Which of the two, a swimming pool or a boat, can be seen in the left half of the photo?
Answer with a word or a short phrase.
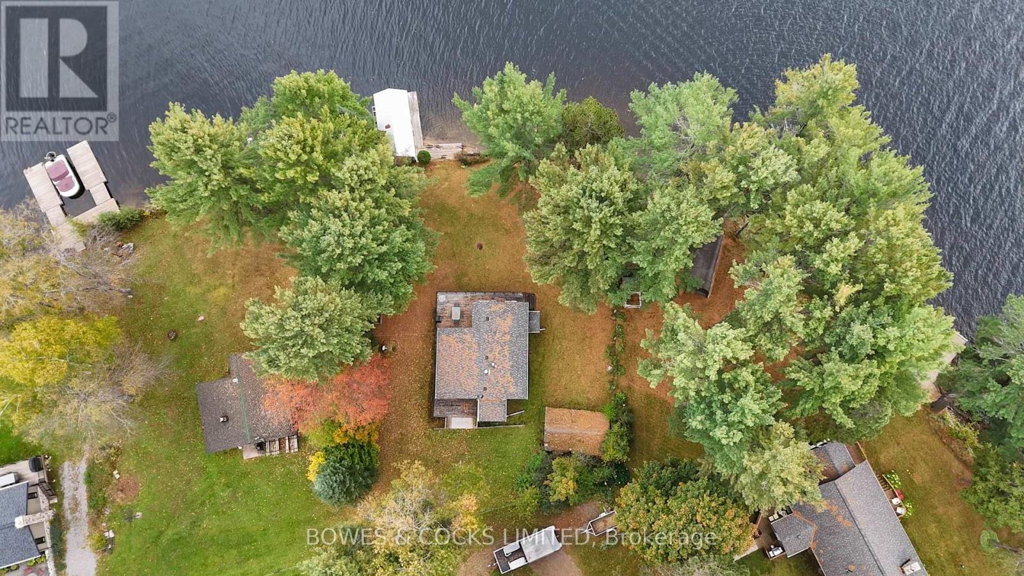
boat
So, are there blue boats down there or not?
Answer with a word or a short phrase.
No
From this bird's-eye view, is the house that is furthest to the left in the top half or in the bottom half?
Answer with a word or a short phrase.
bottom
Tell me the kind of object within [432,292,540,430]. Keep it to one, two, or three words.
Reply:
house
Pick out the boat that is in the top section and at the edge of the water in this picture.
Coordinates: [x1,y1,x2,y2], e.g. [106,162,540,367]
[41,149,74,195]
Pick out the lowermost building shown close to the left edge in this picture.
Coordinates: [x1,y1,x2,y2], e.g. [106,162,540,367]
[0,455,58,568]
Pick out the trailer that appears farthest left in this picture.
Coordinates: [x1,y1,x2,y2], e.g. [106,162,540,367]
[488,527,565,576]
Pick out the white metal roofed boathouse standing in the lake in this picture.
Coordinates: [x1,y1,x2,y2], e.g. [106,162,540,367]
[373,88,424,159]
